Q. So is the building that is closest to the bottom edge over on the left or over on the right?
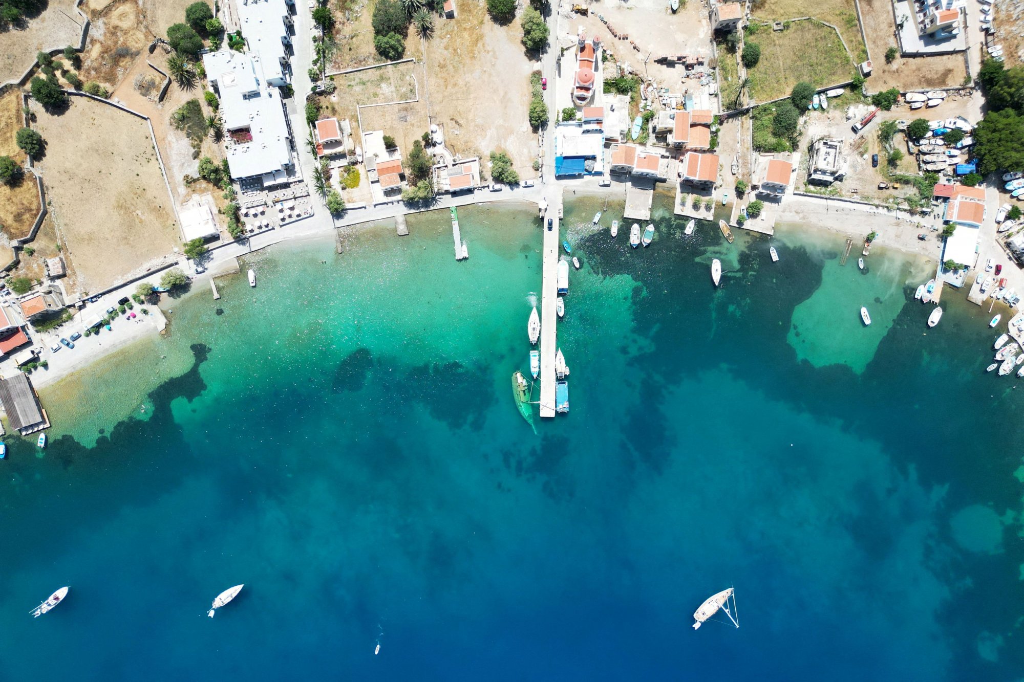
left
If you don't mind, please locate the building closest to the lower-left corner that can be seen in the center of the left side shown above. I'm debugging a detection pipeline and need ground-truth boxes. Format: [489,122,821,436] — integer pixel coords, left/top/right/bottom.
[0,373,54,435]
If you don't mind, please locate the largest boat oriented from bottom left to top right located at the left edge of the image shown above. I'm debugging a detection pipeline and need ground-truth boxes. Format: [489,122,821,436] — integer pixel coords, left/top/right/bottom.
[27,588,68,617]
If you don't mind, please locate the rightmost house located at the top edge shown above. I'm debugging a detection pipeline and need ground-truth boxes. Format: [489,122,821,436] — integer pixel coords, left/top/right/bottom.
[902,0,968,46]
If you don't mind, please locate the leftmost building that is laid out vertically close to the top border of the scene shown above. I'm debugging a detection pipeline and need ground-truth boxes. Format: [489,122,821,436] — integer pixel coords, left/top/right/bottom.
[202,0,295,192]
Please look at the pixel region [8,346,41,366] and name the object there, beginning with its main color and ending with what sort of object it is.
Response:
white vehicle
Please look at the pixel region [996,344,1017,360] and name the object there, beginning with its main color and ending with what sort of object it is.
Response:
white boat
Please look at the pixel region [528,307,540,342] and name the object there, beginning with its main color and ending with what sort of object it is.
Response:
white boat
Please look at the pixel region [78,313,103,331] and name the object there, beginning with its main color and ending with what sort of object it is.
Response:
white vehicle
